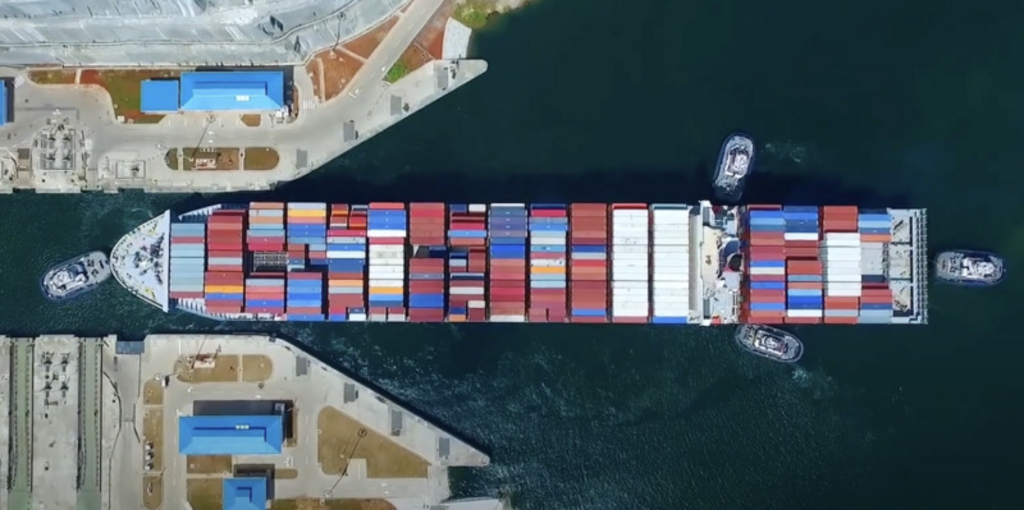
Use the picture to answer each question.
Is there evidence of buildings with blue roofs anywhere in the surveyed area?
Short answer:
Yes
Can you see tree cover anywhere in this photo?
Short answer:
No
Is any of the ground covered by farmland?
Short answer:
No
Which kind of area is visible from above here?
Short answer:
port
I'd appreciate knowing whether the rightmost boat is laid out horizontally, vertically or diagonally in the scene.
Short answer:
horizontally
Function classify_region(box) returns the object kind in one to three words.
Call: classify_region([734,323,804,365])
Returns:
boat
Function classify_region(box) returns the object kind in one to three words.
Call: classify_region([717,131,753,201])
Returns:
boat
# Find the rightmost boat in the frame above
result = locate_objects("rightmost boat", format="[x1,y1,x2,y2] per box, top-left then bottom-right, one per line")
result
[934,251,1007,285]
